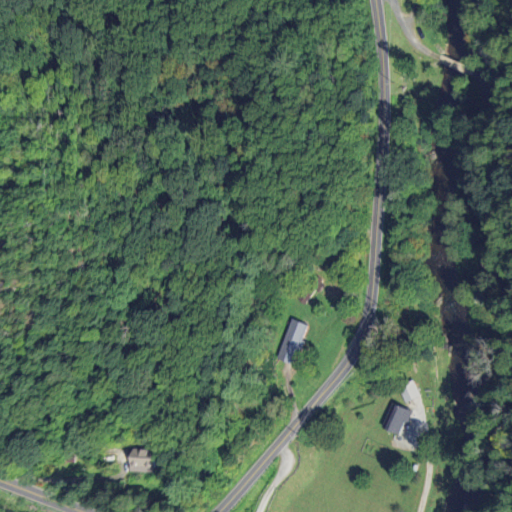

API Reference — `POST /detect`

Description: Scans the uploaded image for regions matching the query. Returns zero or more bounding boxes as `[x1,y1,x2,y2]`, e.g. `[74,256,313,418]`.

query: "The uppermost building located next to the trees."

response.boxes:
[278,320,310,366]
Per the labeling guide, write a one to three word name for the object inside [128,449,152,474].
house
